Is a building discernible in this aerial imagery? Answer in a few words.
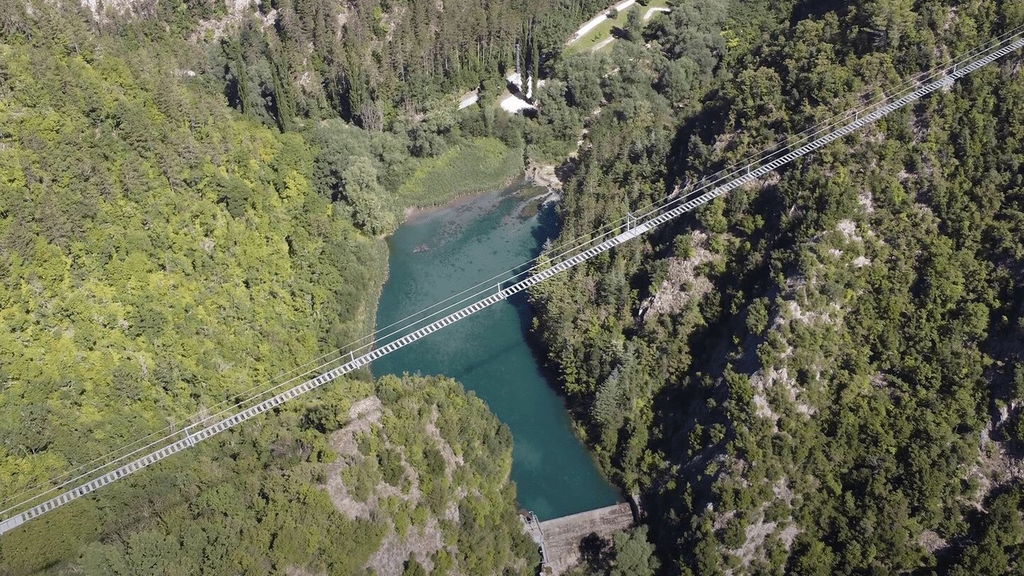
No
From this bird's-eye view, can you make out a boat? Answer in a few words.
No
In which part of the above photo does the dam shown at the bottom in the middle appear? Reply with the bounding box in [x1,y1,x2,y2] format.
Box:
[524,502,634,576]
